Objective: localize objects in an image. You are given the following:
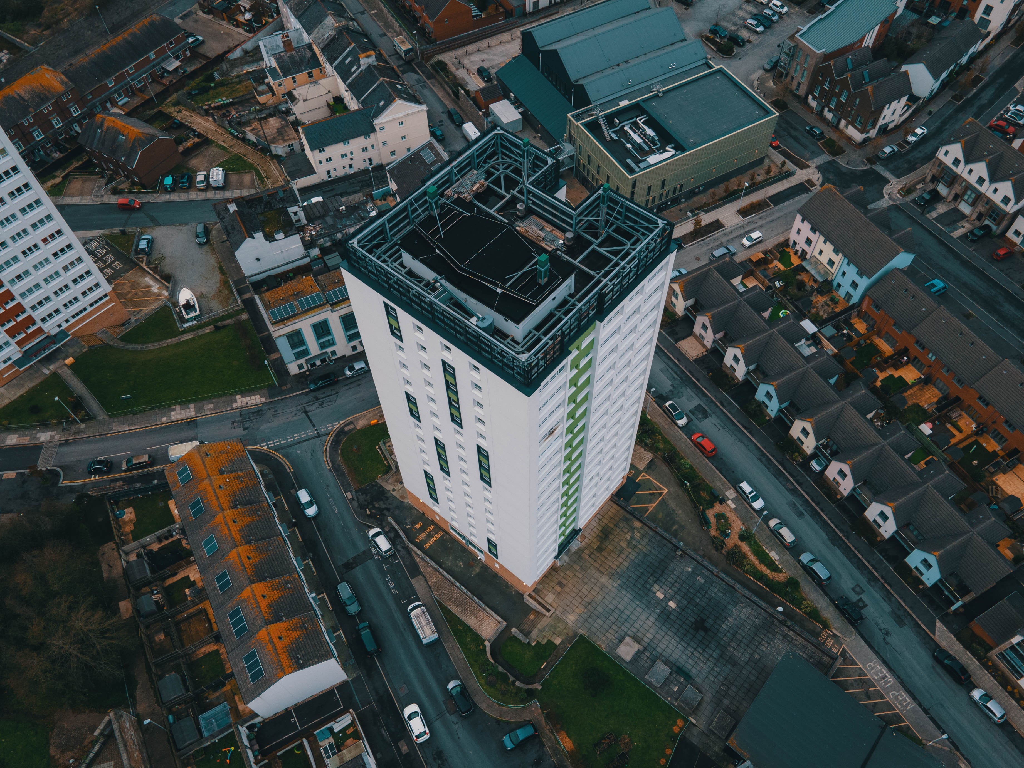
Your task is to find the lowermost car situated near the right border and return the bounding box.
[967,687,1008,727]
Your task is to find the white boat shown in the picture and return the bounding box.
[177,284,199,321]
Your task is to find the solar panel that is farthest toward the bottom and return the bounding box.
[241,649,264,686]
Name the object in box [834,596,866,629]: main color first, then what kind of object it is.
black car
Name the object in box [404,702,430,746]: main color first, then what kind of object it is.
white car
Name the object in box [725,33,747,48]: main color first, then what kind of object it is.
black car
